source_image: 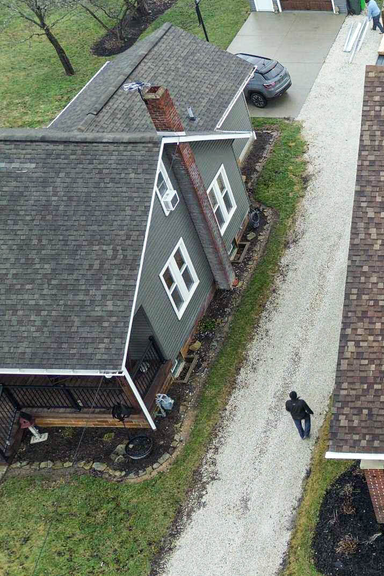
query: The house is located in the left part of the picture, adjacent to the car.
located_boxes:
[0,21,264,478]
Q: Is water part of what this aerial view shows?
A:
No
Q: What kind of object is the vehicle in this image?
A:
automobile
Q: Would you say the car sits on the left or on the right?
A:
right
